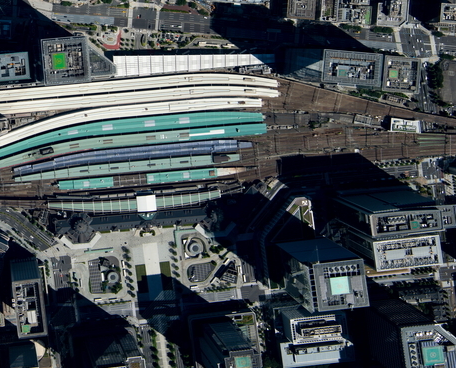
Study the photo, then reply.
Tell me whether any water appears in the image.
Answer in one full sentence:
No, the picture contains no water.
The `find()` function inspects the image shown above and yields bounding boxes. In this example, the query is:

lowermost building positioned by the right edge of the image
[360,299,456,368]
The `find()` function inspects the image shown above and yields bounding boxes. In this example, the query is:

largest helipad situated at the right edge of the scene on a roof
[423,345,445,366]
